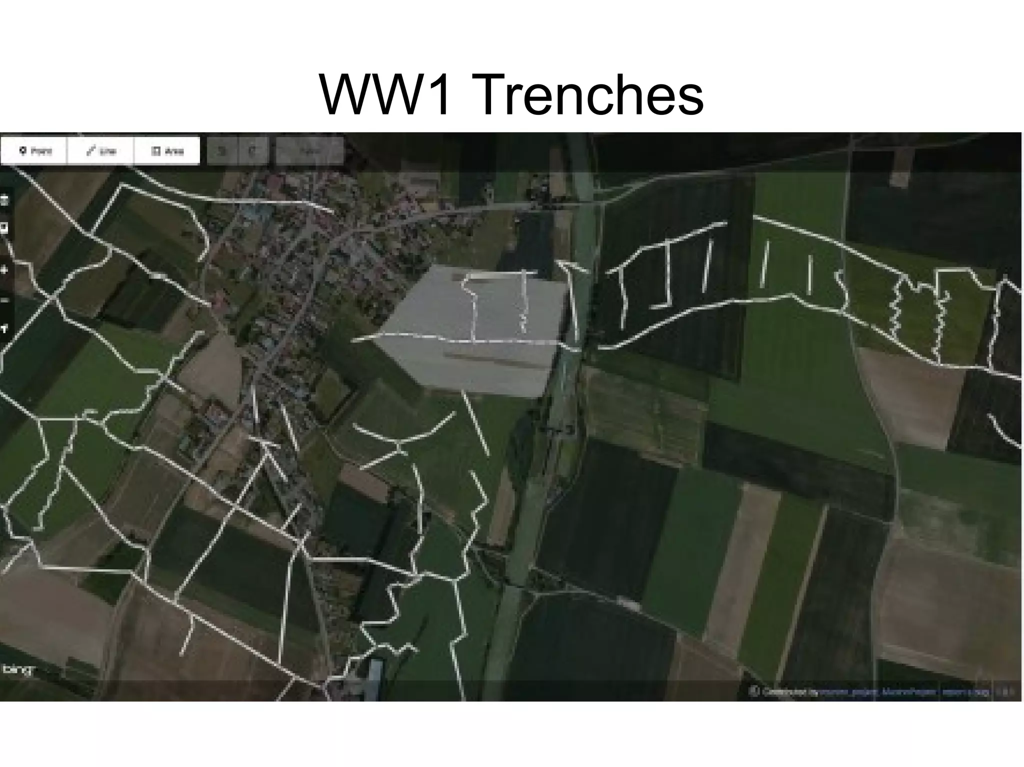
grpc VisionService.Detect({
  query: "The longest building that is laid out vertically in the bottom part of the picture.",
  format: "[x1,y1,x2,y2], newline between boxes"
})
[366,656,380,696]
